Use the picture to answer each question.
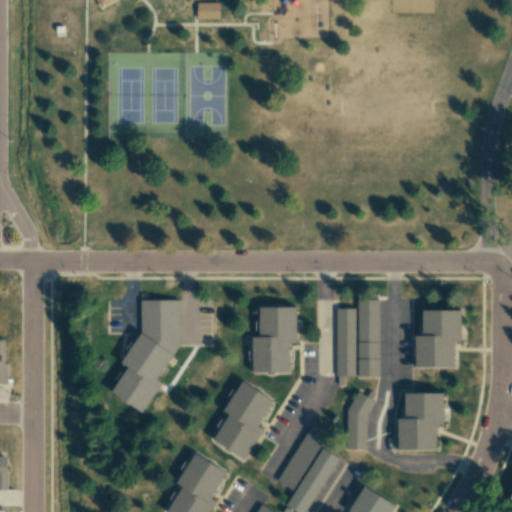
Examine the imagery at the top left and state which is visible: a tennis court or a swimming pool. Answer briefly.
tennis court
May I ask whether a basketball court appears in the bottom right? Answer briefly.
No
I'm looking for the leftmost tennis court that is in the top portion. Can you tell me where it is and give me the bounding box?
[118,68,146,124]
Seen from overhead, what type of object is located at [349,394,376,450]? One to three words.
building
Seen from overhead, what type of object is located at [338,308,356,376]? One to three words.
building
